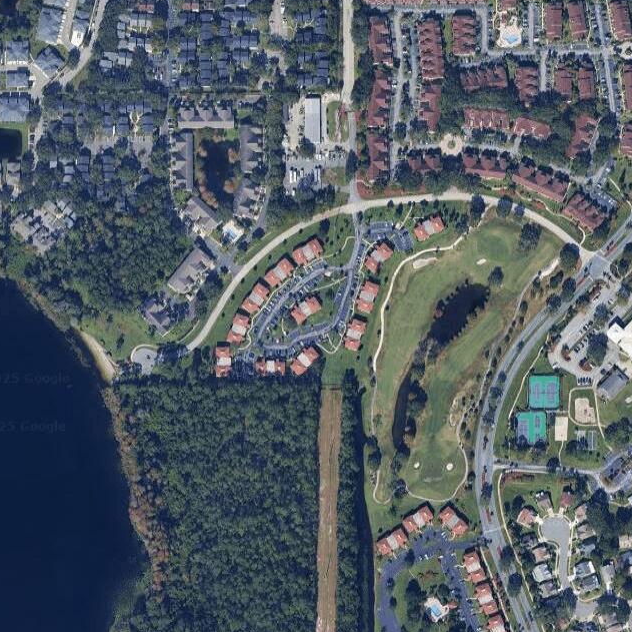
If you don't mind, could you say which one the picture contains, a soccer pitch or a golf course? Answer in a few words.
golf course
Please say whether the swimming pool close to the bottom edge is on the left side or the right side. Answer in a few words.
right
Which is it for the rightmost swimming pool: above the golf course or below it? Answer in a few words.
above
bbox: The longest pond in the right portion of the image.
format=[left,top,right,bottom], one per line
[393,281,490,455]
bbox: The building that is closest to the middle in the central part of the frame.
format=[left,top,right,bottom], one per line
[291,293,323,325]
